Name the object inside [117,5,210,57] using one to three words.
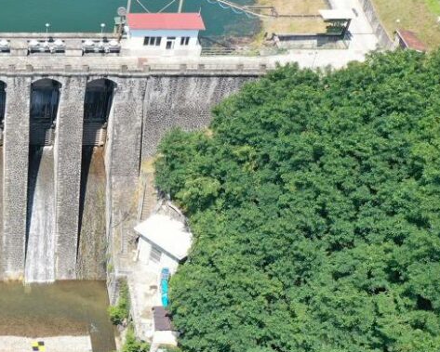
house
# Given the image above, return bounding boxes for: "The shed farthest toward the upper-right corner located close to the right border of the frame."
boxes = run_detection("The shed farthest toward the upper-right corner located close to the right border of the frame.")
[390,28,425,64]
